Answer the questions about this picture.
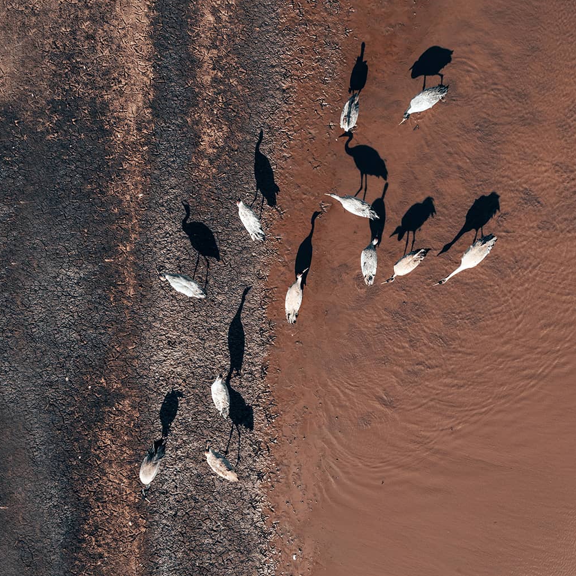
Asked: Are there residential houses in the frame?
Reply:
No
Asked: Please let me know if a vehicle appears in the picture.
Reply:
No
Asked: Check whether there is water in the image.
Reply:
Yes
